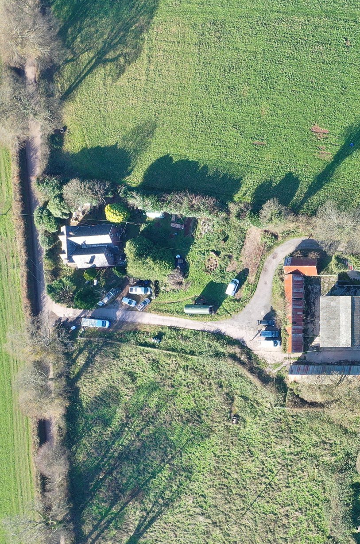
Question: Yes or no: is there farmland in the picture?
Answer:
Yes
